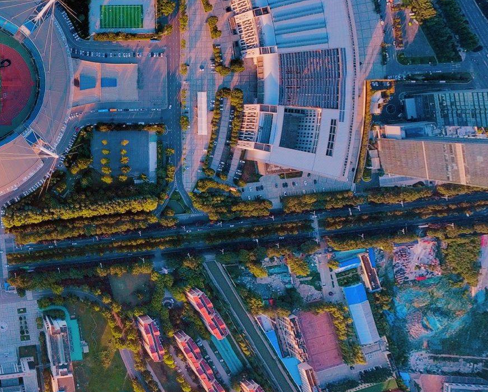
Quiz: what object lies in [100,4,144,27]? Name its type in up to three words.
soccer field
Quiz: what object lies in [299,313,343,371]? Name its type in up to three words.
sports court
